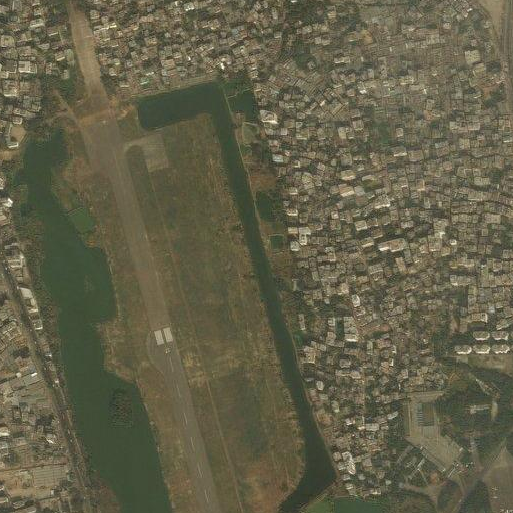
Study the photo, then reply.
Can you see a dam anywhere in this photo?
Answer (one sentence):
No, no dam is visible in the view.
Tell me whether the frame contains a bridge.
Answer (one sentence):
No, this view has no bridge in it.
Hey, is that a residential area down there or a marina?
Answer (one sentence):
The picture captures a residential area.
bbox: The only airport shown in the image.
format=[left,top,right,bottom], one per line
[52,0,305,513]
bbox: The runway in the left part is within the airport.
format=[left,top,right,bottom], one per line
[83,119,218,513]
